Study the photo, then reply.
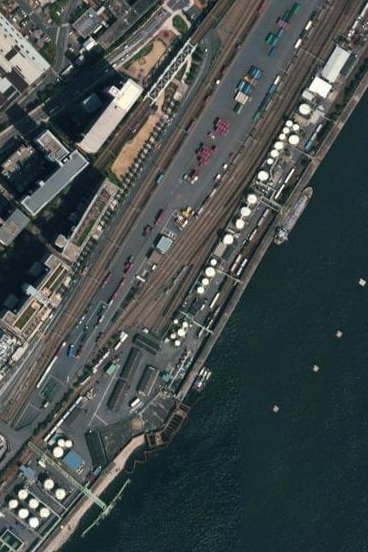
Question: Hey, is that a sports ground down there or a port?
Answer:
port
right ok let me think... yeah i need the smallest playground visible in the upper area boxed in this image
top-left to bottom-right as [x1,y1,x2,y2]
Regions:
[131,41,175,77]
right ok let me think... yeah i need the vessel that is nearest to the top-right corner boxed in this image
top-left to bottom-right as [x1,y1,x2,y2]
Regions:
[275,189,312,245]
